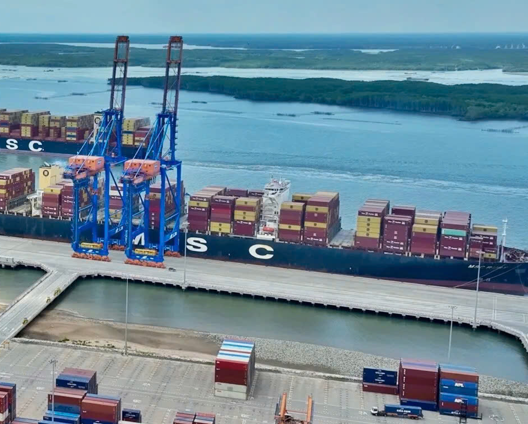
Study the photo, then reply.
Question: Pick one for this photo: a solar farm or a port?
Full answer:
What you see here is a port.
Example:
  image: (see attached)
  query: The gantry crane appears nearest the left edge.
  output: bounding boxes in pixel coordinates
[62,31,131,262]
